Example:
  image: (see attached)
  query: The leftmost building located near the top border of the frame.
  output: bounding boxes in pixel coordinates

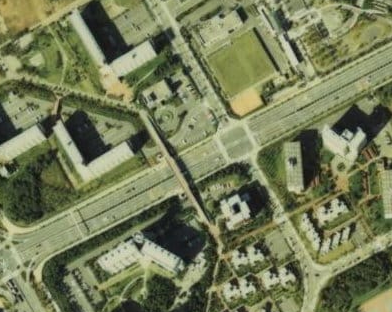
[70,10,157,78]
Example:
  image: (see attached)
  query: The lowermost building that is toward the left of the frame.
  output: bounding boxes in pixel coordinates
[97,234,185,274]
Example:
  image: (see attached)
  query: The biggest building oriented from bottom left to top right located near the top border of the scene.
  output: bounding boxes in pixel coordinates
[198,11,244,46]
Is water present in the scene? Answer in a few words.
No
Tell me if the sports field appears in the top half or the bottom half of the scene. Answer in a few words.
top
